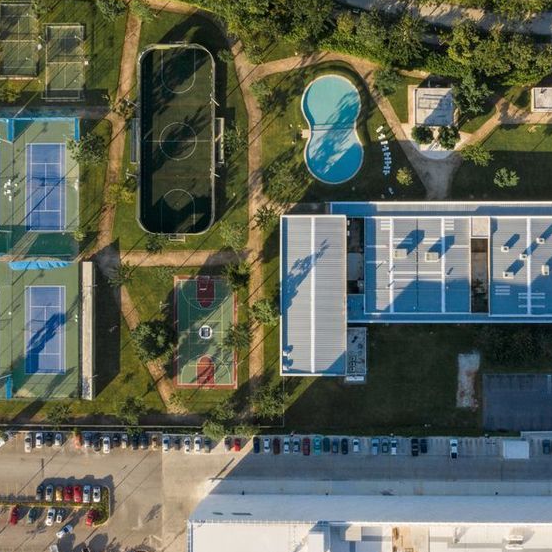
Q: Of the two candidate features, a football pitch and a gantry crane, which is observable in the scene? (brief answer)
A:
football pitch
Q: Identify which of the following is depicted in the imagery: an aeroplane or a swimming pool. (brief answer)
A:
swimming pool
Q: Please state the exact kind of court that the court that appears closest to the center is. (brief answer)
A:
basketball court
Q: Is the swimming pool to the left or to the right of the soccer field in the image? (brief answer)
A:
to its right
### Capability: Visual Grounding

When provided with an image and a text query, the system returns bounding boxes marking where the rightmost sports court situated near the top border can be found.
[42,22,84,100]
